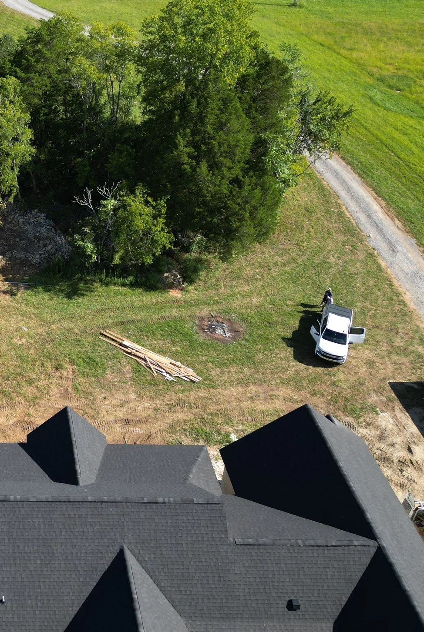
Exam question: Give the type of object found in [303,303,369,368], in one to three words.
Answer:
truck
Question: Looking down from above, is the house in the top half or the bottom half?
bottom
